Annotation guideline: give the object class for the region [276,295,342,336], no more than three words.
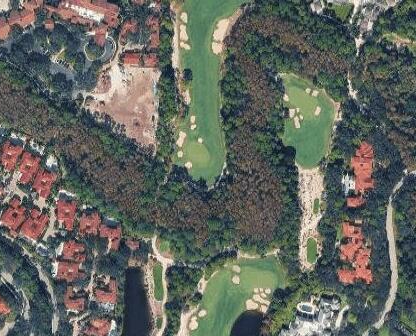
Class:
house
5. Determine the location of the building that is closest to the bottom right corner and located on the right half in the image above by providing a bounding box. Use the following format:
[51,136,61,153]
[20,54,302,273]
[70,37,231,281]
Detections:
[337,267,374,285]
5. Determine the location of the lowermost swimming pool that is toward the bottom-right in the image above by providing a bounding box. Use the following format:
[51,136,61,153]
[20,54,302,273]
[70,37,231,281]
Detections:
[296,303,313,315]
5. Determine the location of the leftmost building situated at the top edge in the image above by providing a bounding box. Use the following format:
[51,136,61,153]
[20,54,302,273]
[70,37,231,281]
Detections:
[0,0,43,35]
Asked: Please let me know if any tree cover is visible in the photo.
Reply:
Yes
